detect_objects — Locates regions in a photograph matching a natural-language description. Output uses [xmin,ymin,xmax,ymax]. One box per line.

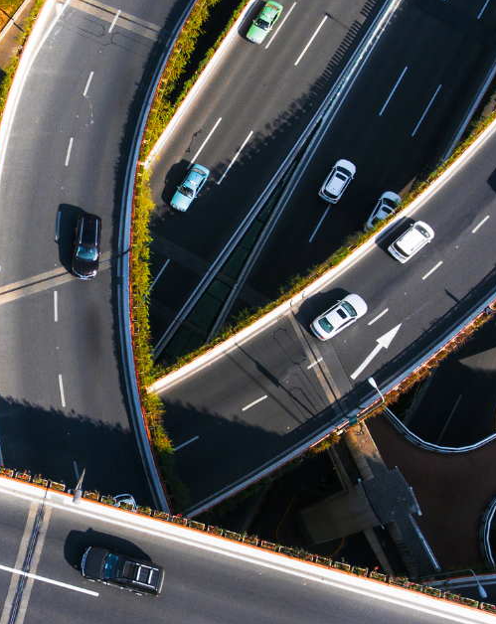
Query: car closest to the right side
[385,221,437,267]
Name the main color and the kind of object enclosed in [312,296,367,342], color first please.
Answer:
white car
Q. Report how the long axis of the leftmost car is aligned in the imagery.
from top to bottom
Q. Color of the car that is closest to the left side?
black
